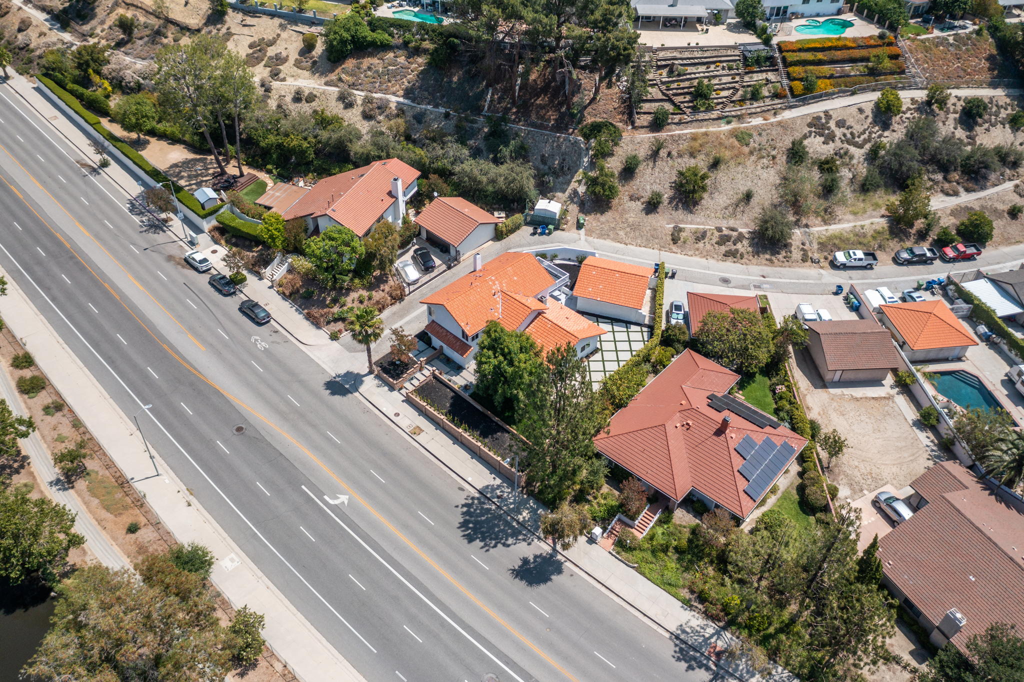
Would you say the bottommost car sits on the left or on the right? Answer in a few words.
right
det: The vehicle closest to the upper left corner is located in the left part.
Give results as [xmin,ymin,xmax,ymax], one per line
[182,250,212,275]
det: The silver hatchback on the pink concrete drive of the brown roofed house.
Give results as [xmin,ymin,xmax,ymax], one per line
[875,490,919,528]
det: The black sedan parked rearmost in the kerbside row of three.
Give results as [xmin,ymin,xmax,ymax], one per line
[238,299,272,327]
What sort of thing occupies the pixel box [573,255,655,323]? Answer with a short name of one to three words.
building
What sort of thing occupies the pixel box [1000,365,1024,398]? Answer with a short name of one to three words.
camper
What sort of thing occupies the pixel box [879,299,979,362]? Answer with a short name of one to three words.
building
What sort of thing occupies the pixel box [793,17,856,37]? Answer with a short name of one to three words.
swimming pool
